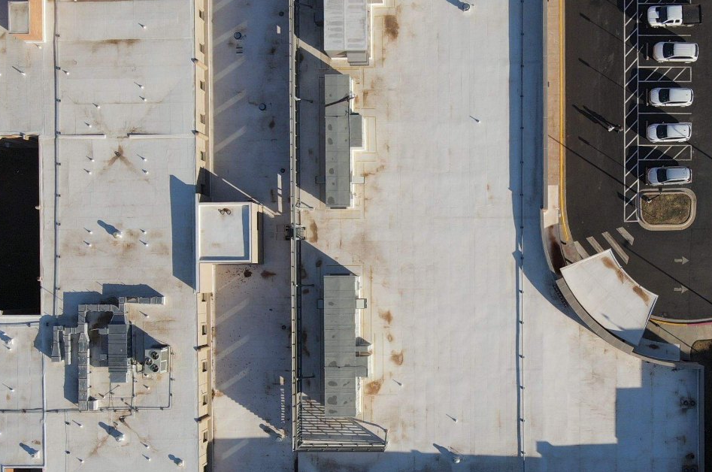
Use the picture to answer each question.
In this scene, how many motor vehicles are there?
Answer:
5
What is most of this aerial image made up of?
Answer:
buildings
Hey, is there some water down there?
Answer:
No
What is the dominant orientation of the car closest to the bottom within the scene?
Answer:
from side to side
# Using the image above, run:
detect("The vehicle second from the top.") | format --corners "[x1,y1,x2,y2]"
[651,40,700,63]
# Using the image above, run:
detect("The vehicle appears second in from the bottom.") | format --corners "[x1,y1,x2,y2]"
[646,120,692,142]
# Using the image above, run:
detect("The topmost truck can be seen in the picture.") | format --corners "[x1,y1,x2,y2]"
[646,2,703,28]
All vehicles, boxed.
[651,40,700,63]
[647,85,693,108]
[646,120,692,142]
[646,163,692,186]
[646,2,703,28]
